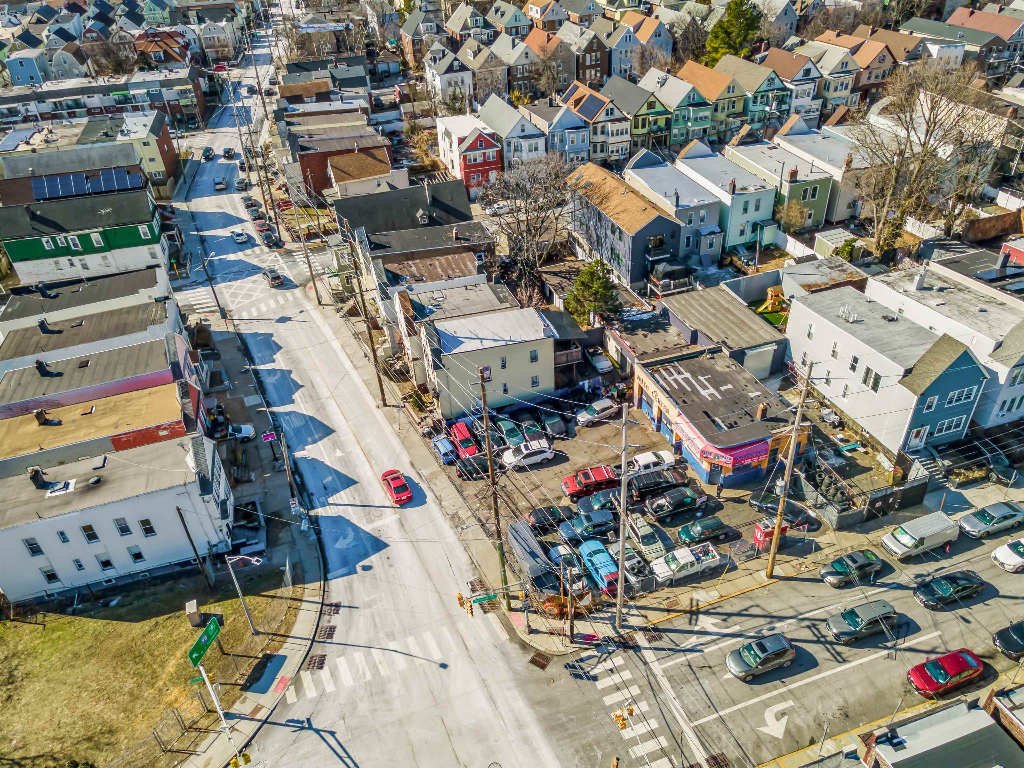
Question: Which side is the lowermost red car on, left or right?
right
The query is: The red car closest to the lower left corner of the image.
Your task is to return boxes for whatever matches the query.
[379,468,418,510]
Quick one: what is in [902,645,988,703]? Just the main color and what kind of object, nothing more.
red car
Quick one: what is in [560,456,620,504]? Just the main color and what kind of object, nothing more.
red car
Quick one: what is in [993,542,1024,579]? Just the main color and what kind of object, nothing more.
white car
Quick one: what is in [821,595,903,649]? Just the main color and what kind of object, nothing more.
gray car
